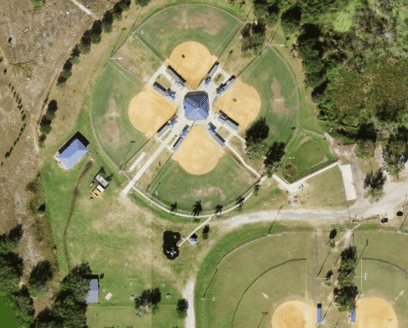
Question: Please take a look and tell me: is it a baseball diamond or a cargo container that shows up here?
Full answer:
I can see a baseball diamond in this picture.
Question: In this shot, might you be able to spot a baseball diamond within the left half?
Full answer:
Yes, a baseball diamond appears within the left half.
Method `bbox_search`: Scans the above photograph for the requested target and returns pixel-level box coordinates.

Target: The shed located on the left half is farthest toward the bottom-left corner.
[84,279,100,303]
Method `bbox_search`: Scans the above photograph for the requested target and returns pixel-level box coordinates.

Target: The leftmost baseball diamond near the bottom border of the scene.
[203,232,316,328]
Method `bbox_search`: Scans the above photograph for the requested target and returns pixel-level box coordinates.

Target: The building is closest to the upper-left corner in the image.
[51,136,87,170]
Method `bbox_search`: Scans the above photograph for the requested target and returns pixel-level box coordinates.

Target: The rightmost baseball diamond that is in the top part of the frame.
[212,46,299,169]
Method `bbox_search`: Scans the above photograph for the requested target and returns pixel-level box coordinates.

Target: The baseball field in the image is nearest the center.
[137,129,260,215]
